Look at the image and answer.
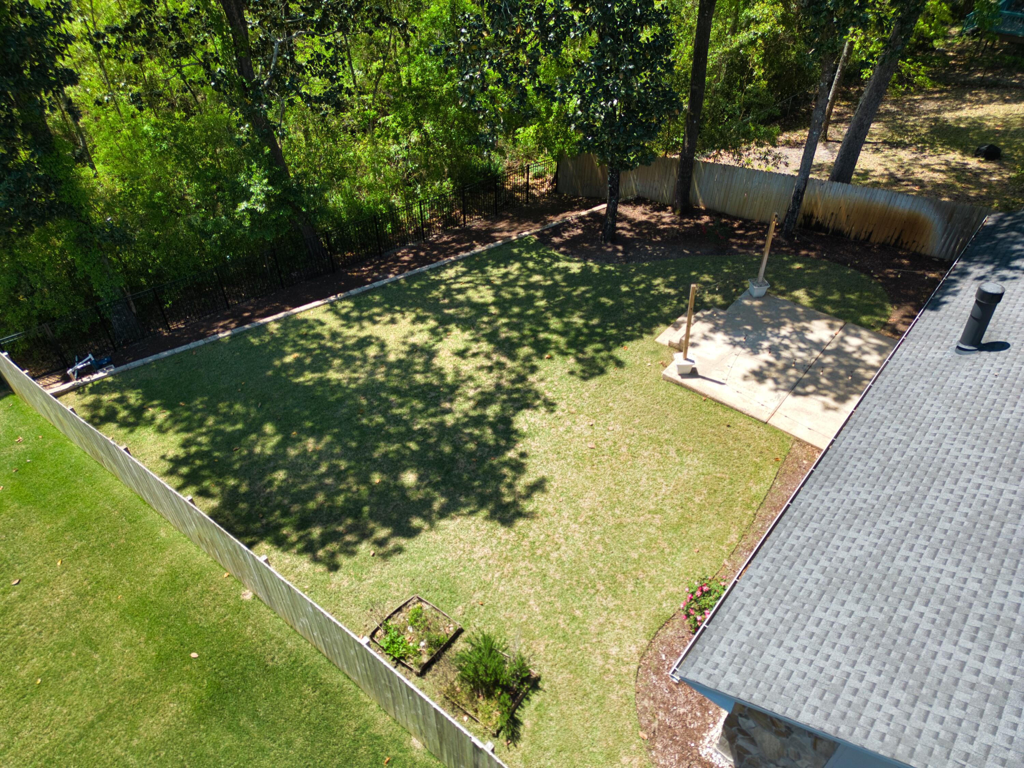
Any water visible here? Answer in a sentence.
No, no water is visible.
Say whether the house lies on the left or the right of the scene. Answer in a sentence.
It is on the right.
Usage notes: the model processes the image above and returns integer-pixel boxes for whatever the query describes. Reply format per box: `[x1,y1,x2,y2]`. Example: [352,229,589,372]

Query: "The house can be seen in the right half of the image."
[666,213,1024,768]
